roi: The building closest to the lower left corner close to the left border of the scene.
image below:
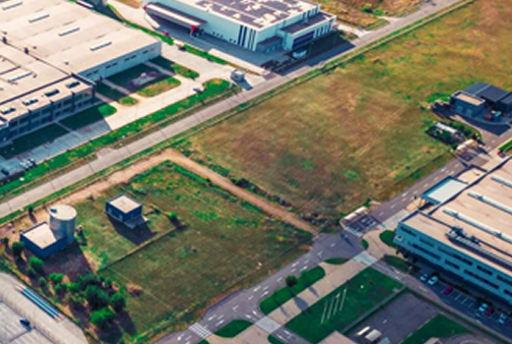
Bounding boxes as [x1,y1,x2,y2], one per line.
[20,222,65,257]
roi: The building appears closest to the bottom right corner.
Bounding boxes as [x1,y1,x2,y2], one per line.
[392,154,512,301]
